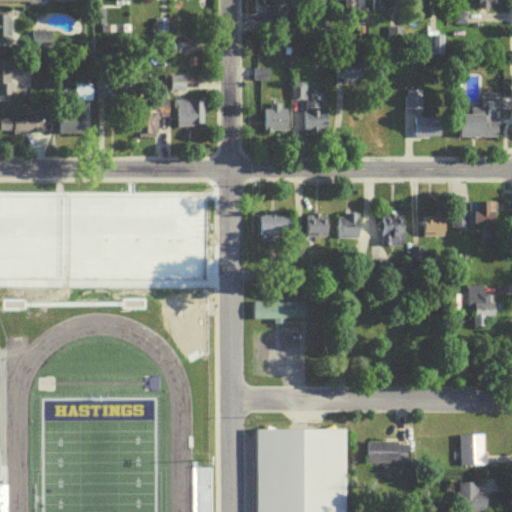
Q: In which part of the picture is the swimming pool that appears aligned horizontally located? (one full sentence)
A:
You can find the swimming pool that appears aligned horizontally in the top left area of the picture.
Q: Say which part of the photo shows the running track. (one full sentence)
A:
The running track appears toward the bottom left of the photo.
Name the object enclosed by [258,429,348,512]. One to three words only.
building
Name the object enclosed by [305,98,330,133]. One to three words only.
house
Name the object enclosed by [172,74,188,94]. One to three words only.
building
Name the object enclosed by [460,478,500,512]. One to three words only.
house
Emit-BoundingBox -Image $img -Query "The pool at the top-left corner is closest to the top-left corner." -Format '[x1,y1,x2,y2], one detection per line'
[32,13,82,35]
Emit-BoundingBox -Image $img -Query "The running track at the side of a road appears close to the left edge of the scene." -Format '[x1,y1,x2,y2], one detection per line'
[6,313,191,512]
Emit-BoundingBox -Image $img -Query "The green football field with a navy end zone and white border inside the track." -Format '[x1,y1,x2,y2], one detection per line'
[30,336,168,512]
